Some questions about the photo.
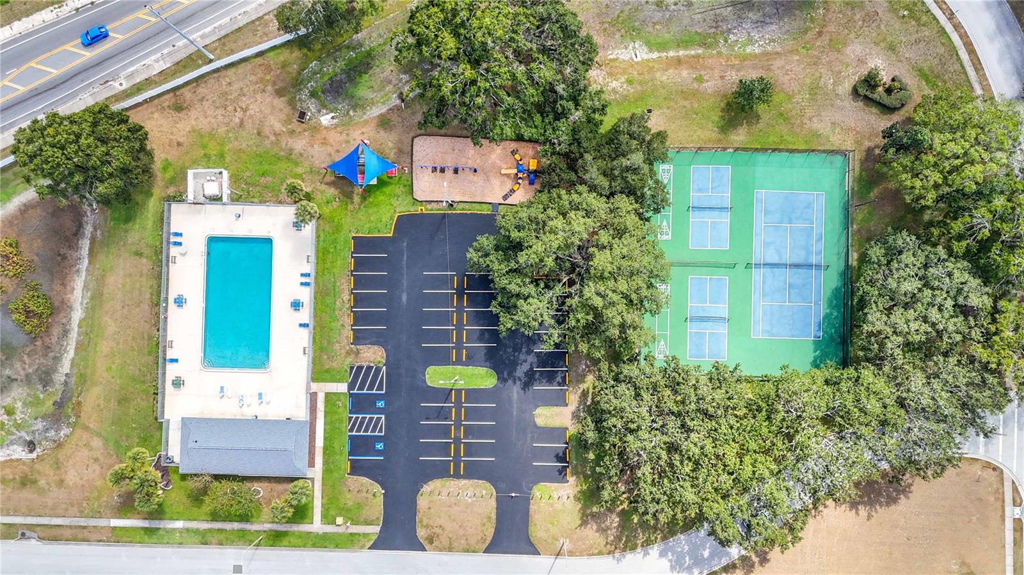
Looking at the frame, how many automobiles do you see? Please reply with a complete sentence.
In total, 1 automobile can be seen.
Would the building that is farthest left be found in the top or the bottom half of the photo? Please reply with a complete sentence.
You can find the building that is farthest left in the bottom half.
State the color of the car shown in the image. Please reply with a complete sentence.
The car looks blue in the image.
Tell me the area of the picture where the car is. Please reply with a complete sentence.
You can find the car in the top left area of the picture.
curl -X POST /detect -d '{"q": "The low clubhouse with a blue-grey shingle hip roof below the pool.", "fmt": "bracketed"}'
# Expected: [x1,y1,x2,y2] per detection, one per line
[179,418,315,476]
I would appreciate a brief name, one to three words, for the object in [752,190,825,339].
tennis court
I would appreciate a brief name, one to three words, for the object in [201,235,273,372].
swimming pool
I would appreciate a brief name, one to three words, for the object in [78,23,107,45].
car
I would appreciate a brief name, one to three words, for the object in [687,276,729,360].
sports court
